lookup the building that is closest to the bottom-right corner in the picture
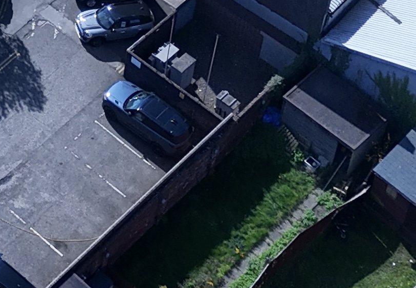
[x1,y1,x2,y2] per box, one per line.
[364,121,416,244]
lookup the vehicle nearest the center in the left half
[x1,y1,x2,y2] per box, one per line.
[105,84,194,155]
